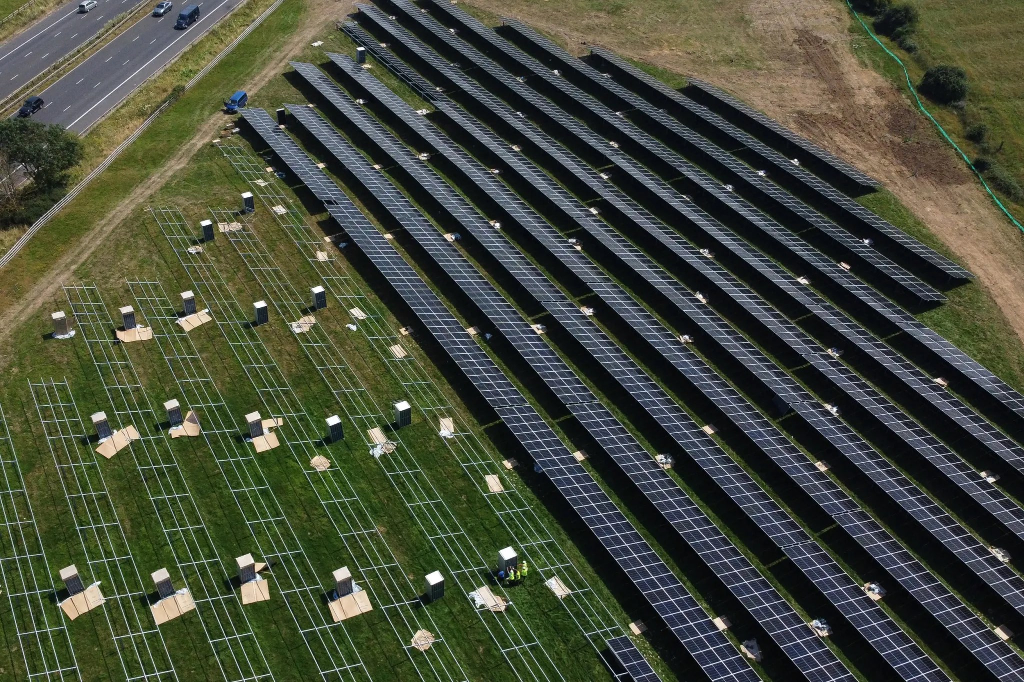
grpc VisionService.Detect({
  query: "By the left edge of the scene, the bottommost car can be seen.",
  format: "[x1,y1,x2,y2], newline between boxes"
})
[16,93,44,116]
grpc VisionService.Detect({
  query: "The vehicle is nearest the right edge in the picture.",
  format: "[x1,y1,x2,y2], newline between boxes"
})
[220,87,250,113]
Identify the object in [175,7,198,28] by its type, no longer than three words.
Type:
vehicle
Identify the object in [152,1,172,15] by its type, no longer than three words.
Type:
car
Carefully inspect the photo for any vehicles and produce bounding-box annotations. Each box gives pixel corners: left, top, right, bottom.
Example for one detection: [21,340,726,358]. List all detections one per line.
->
[152,1,172,15]
[16,93,44,116]
[77,0,98,12]
[220,87,250,113]
[175,7,198,28]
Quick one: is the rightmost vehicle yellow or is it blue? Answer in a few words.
blue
